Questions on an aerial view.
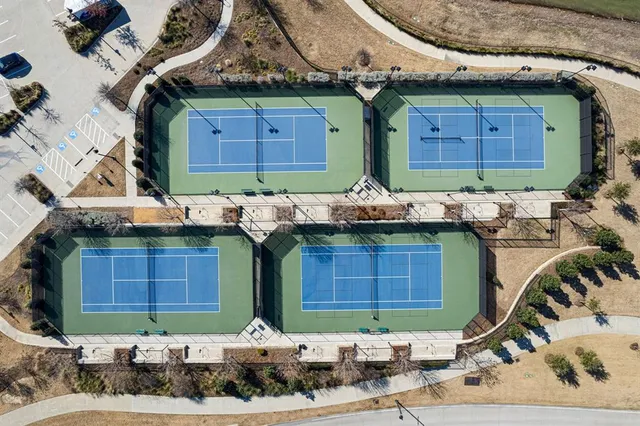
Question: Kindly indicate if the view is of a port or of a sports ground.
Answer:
sports ground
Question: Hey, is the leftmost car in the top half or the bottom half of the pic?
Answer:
top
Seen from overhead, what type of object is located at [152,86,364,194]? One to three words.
tennis court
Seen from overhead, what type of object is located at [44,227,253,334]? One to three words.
tennis court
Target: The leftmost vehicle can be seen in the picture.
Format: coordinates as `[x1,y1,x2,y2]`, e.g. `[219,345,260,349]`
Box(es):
[0,56,28,76]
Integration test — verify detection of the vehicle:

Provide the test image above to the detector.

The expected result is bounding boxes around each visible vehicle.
[0,56,28,76]
[67,0,113,22]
